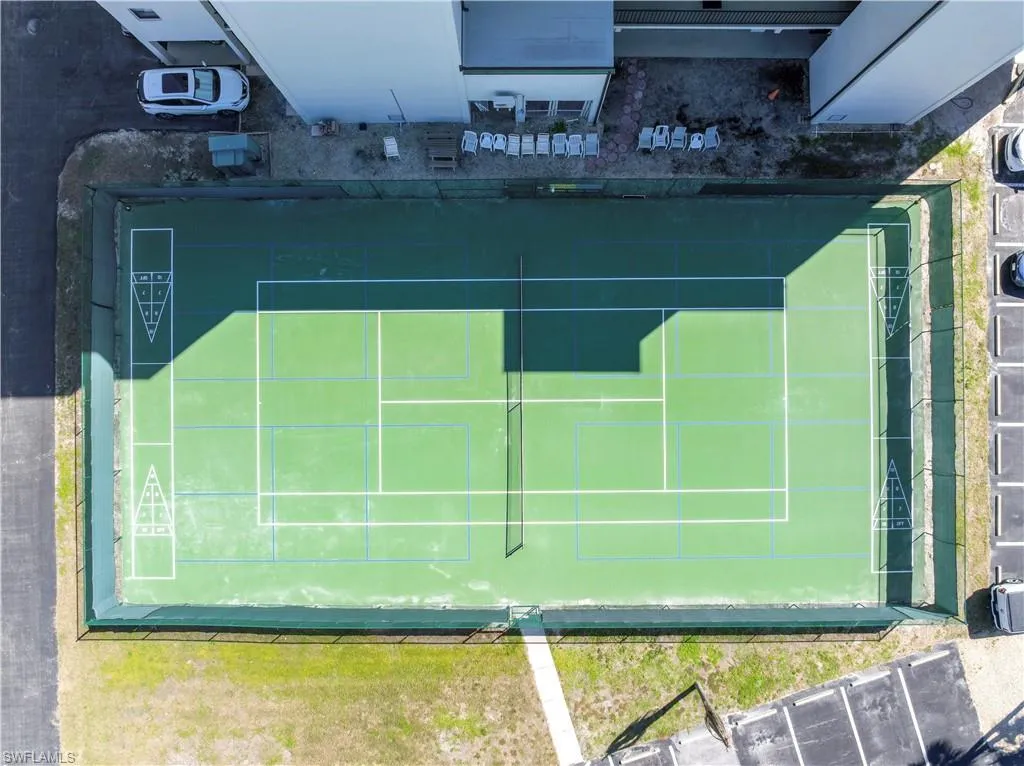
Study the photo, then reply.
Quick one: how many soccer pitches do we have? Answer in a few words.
0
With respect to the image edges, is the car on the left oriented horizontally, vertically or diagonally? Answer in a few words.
horizontally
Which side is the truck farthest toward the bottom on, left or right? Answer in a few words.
right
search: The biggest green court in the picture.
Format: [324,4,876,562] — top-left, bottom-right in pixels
[119,197,925,607]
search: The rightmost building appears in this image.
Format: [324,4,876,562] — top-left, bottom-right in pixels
[810,0,1024,123]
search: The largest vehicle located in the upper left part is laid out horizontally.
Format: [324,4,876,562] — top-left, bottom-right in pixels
[136,64,252,119]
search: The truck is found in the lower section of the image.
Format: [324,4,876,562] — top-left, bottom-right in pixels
[989,577,1024,630]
